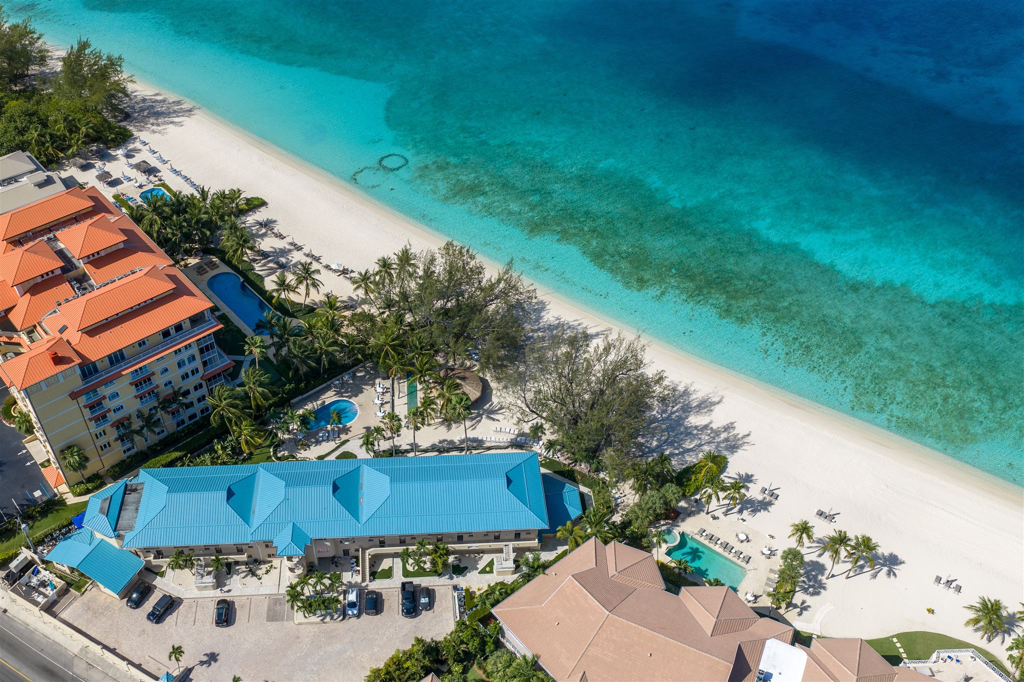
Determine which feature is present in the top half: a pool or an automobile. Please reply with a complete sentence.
The one visible in the top half is a pool.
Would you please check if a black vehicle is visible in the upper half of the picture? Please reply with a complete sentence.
No, there's no black vehicle to be seen in the upper half of the picture.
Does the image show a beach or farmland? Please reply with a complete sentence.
This image shows a beach.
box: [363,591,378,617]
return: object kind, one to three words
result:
car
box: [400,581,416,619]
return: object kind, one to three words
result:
vehicle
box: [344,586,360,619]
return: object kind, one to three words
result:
car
